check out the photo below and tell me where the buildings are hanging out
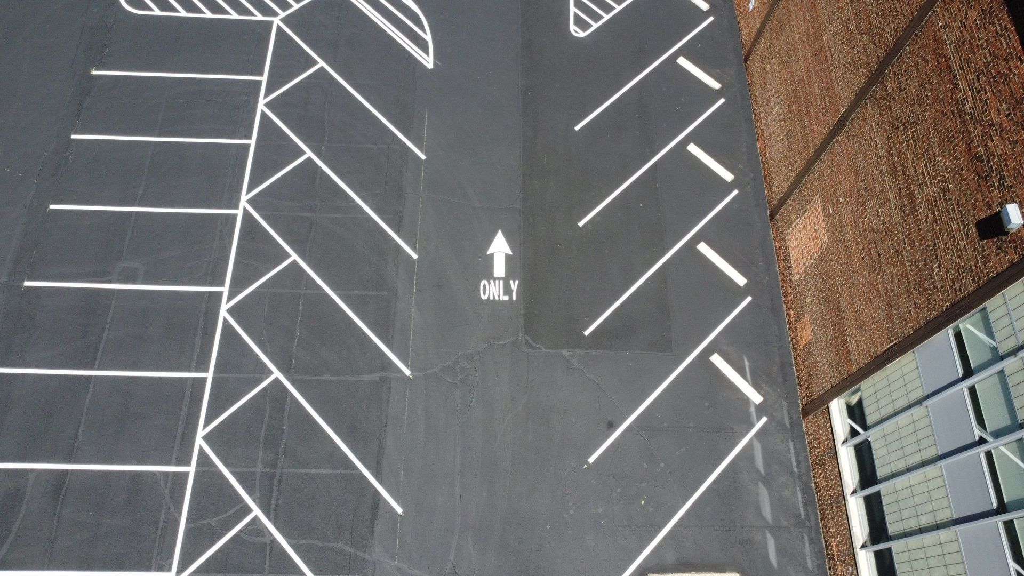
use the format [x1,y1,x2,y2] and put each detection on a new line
[735,0,1024,576]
